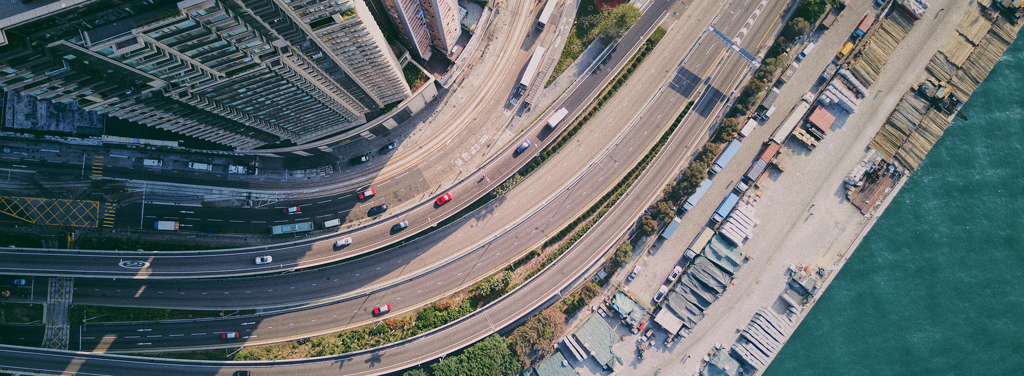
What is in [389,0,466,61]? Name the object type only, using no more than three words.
building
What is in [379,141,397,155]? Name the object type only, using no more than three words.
car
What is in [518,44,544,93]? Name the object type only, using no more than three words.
bus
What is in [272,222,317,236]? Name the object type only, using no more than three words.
vehicle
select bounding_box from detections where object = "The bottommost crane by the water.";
[925,82,967,121]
